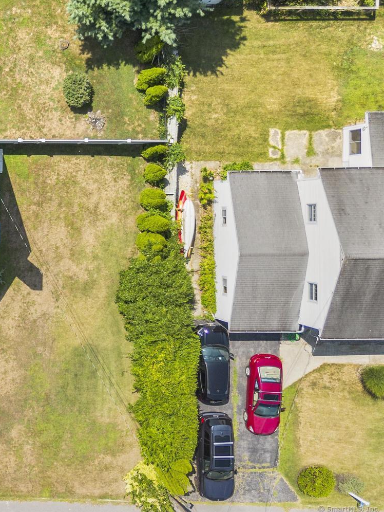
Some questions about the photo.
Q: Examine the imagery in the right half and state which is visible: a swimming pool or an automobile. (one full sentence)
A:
The one visible in the right half is an automobile.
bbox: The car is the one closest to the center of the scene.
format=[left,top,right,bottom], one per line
[191,325,234,407]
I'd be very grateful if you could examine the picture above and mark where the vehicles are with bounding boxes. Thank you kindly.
[239,352,283,434]
[193,411,237,500]
[191,325,234,407]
